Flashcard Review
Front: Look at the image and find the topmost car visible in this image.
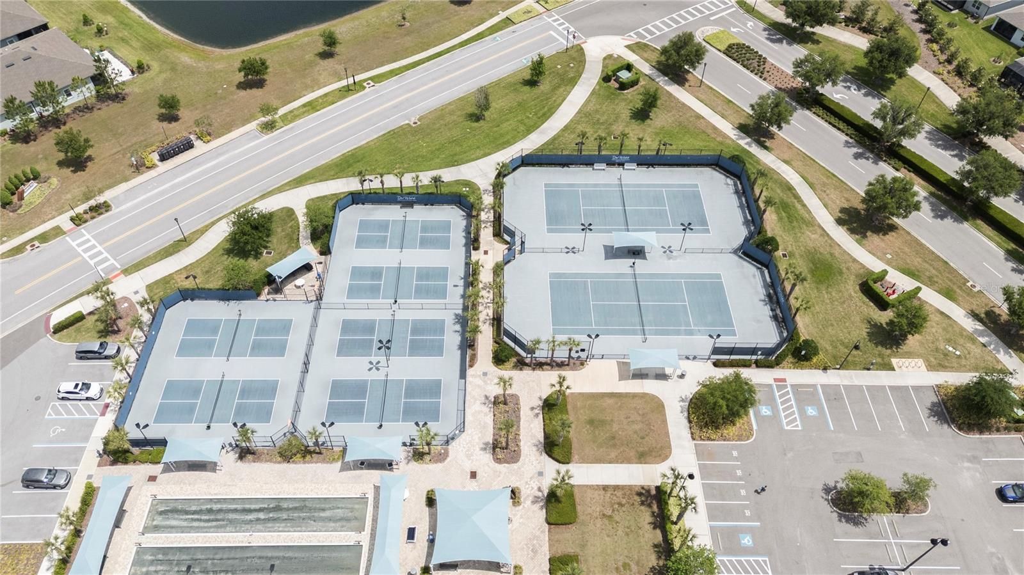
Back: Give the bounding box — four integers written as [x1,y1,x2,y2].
[73,338,120,358]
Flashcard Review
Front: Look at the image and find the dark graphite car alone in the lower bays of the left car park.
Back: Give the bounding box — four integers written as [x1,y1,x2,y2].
[18,465,72,488]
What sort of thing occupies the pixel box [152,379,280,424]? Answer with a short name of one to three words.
sports court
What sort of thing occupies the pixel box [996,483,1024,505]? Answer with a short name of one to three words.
car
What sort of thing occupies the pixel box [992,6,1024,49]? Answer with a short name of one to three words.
house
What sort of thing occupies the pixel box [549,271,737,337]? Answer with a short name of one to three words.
tennis court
